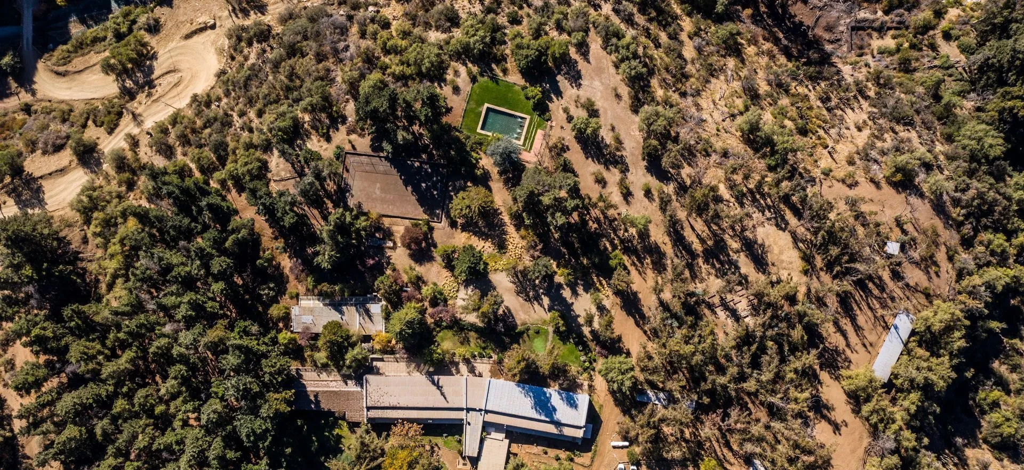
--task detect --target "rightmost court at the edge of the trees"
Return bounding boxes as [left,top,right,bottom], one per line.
[344,154,446,221]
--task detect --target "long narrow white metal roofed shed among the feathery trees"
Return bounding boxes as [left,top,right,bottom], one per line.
[867,312,914,382]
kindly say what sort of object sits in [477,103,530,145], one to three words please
swimming pool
